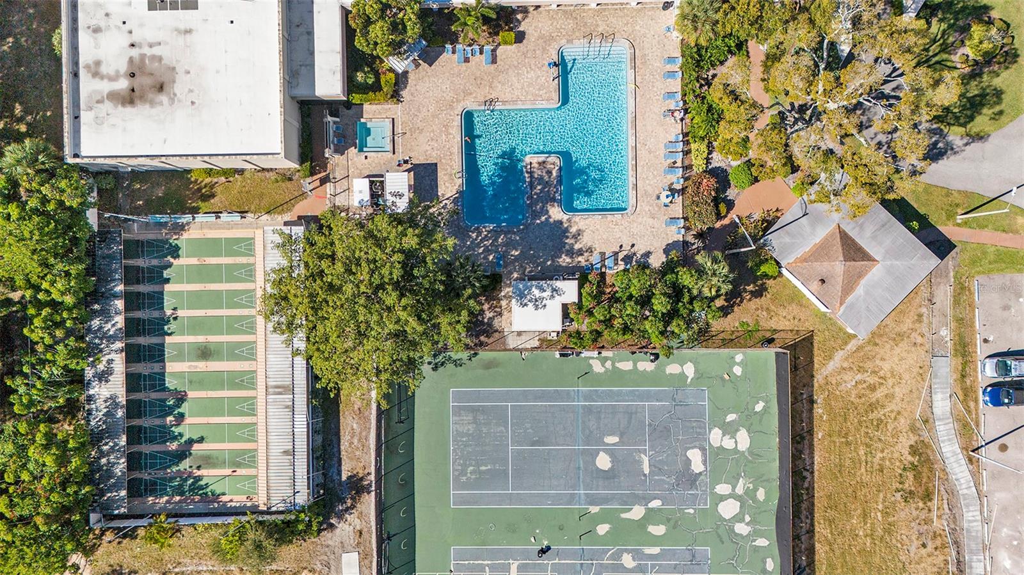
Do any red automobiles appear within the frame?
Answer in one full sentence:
No, there isn't any red automobile down there.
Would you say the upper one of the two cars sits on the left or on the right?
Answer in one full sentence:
You can find the upper one of the two cars on the right side of the picture.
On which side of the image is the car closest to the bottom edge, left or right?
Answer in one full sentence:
The car closest to the bottom edge sits on the right side.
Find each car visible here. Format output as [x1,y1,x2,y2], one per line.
[985,386,1024,410]
[985,357,1024,381]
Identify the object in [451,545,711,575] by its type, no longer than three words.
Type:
tennis court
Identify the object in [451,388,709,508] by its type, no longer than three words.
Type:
tennis court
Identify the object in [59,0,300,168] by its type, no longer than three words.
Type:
building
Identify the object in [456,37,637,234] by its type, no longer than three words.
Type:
swimming pool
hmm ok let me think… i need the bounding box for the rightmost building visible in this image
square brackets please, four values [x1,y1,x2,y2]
[761,166,941,339]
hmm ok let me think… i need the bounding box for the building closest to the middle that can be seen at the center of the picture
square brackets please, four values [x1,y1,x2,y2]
[511,279,579,331]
